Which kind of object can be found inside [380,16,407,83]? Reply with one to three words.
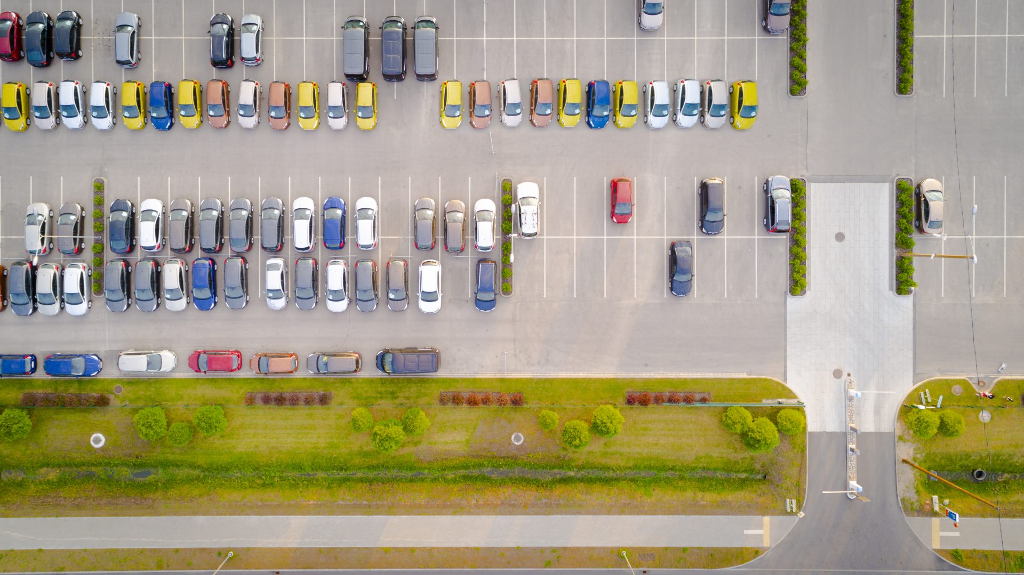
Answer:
vehicle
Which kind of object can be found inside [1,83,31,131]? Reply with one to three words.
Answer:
car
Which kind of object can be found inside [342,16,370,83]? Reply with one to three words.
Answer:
van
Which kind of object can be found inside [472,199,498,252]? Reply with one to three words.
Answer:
car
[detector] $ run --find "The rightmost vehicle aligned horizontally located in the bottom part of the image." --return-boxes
[376,349,441,376]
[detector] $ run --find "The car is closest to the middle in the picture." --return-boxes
[473,257,499,313]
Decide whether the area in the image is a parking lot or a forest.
parking lot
